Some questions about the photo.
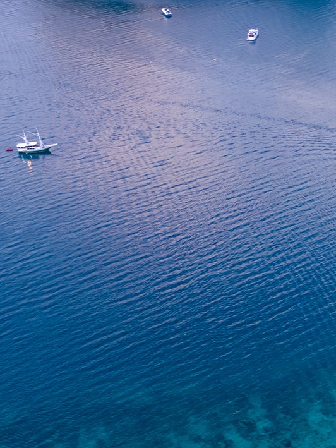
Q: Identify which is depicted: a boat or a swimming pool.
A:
boat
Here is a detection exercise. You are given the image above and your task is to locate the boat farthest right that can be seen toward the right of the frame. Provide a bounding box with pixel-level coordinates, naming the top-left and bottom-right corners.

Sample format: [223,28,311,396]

[244,25,259,41]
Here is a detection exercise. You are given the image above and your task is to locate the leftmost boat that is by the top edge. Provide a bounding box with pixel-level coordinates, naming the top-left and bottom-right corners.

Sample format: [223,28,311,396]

[161,5,176,18]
